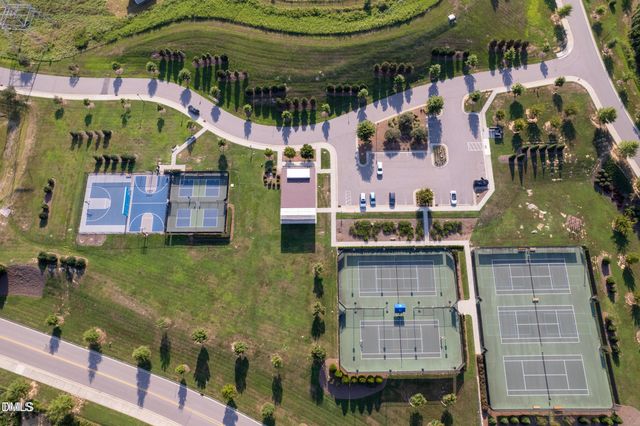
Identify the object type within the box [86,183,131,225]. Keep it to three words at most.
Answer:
basketball court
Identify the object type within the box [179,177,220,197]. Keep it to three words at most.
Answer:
sports court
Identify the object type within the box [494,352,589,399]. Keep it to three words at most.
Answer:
tennis court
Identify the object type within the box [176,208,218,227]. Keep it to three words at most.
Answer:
sports court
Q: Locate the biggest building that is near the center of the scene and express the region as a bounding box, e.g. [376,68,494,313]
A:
[280,166,316,224]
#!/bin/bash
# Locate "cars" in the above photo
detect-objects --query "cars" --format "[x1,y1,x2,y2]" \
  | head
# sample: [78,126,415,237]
[450,191,458,205]
[185,104,198,114]
[377,163,384,177]
[369,192,376,206]
[389,192,396,207]
[360,192,367,207]
[472,180,489,188]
